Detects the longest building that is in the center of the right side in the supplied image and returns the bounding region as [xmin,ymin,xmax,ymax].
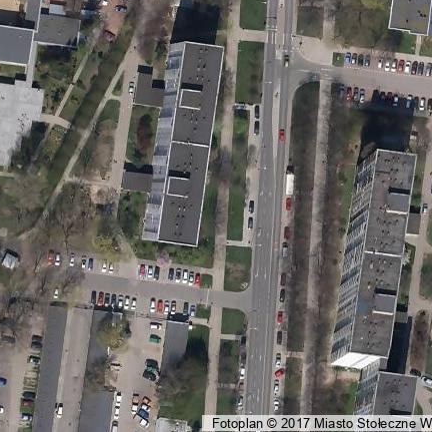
[331,149,417,365]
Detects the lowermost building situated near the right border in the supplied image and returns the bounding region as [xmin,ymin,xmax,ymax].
[353,371,417,432]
